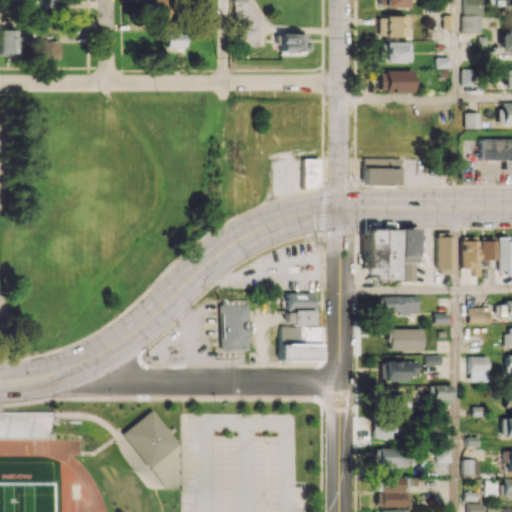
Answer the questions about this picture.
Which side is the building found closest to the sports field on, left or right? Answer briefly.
left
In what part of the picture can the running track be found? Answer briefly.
bottom left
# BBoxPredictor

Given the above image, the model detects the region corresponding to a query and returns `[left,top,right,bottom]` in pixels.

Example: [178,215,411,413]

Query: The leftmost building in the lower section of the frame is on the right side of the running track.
[126,411,182,468]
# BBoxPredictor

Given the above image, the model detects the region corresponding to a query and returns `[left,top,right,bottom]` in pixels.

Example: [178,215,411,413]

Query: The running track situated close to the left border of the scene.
[0,440,107,512]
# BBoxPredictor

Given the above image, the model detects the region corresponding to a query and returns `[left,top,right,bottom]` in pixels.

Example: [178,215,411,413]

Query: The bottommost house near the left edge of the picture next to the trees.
[2,30,20,55]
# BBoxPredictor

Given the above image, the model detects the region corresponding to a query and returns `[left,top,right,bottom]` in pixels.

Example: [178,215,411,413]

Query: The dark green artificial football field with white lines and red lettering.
[0,457,62,512]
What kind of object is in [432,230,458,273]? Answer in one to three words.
house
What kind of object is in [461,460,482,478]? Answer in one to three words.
building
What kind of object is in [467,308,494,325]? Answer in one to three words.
house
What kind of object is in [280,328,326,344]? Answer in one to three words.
building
